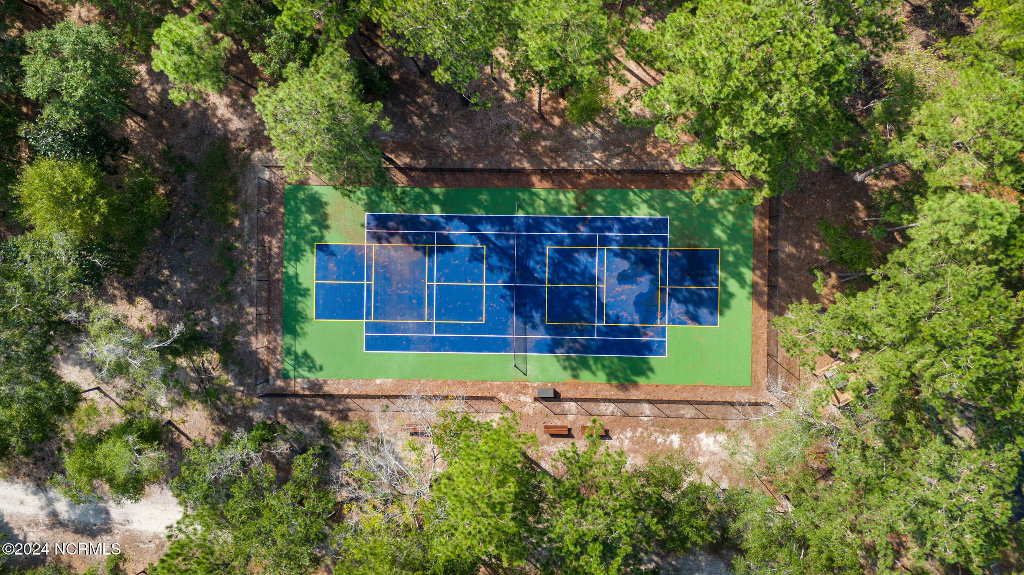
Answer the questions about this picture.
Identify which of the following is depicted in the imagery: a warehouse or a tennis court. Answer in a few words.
tennis court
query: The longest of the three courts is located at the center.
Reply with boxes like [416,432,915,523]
[284,185,756,387]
